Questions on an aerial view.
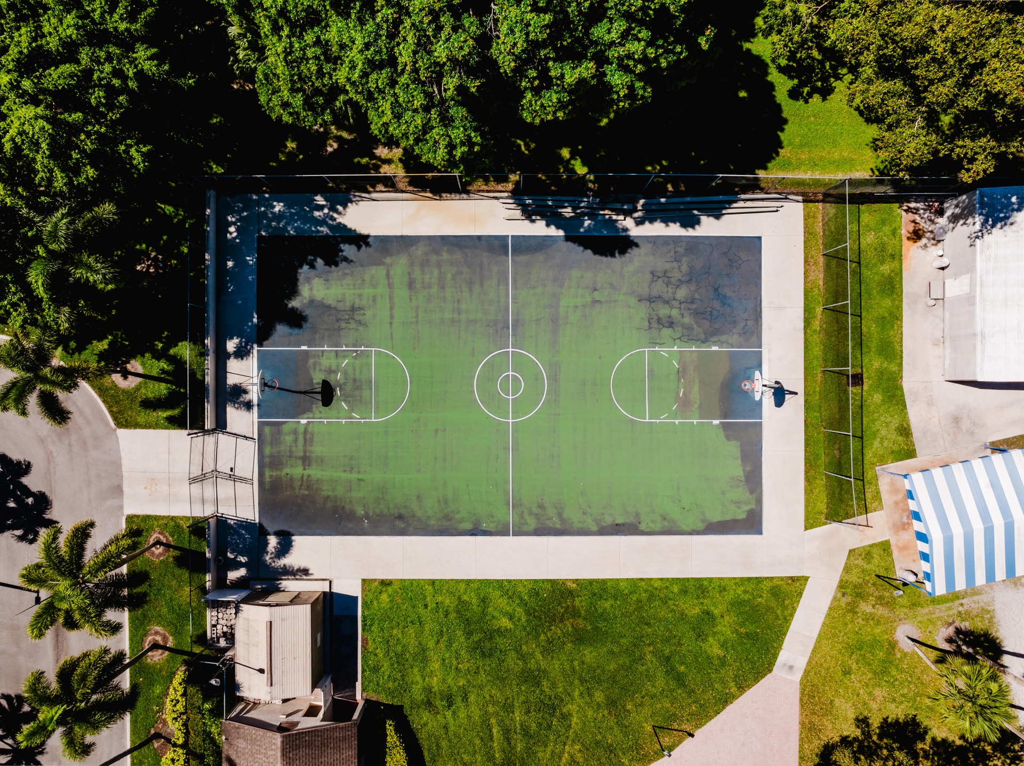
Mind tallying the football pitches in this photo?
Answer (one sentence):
The photo contains no football pitches.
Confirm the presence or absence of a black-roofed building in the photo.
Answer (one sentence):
No, no black-roofed building is visible in the view.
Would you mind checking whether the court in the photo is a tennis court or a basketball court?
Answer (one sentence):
From above, the court can be identified as a basketball court.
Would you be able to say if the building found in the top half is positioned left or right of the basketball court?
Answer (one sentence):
The building found in the top half appears to the right of the basketball court in this view.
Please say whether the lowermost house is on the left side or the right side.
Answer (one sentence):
It is on the left.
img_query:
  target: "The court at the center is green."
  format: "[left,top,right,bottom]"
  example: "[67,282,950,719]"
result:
[257,235,762,535]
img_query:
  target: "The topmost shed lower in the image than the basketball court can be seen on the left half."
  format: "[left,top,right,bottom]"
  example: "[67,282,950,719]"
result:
[235,590,323,704]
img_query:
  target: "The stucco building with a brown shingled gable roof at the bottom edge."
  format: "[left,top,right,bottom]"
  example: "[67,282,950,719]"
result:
[217,676,368,766]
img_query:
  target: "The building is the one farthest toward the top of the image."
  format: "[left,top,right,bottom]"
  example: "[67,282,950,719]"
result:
[943,187,1024,382]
